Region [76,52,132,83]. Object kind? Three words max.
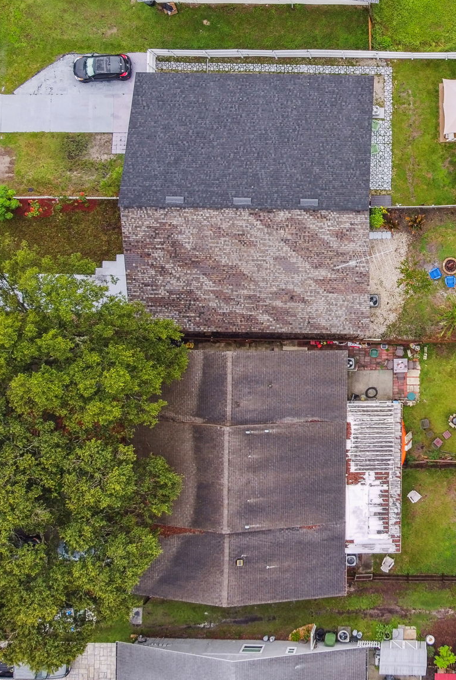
car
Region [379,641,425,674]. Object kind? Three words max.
shed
